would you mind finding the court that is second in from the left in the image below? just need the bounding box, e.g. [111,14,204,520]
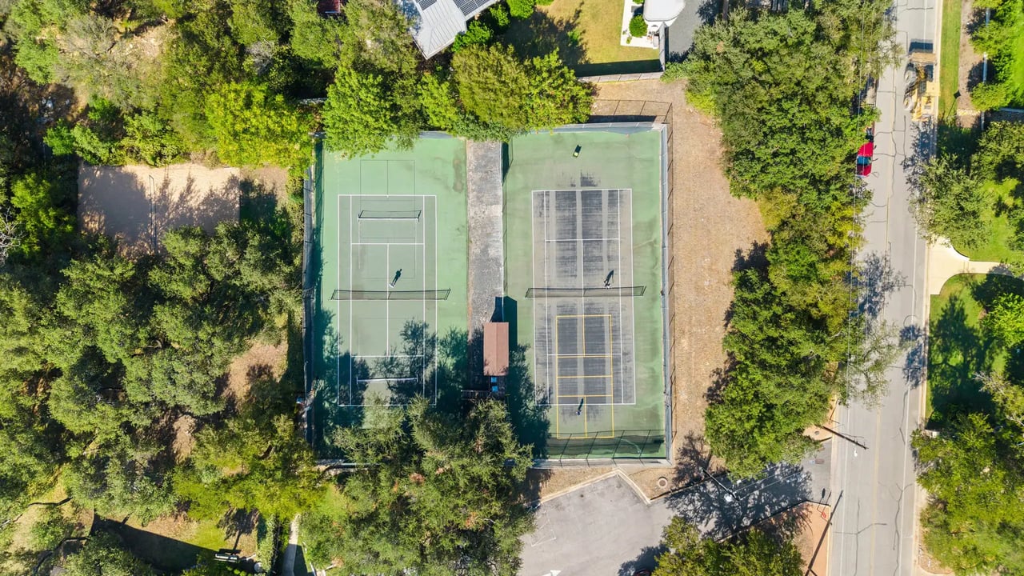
[313,131,466,460]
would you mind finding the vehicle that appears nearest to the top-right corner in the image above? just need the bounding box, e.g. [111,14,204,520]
[904,49,940,116]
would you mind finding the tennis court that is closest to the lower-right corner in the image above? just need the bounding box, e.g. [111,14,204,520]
[503,128,666,459]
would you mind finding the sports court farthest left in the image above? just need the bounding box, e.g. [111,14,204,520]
[77,165,240,258]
